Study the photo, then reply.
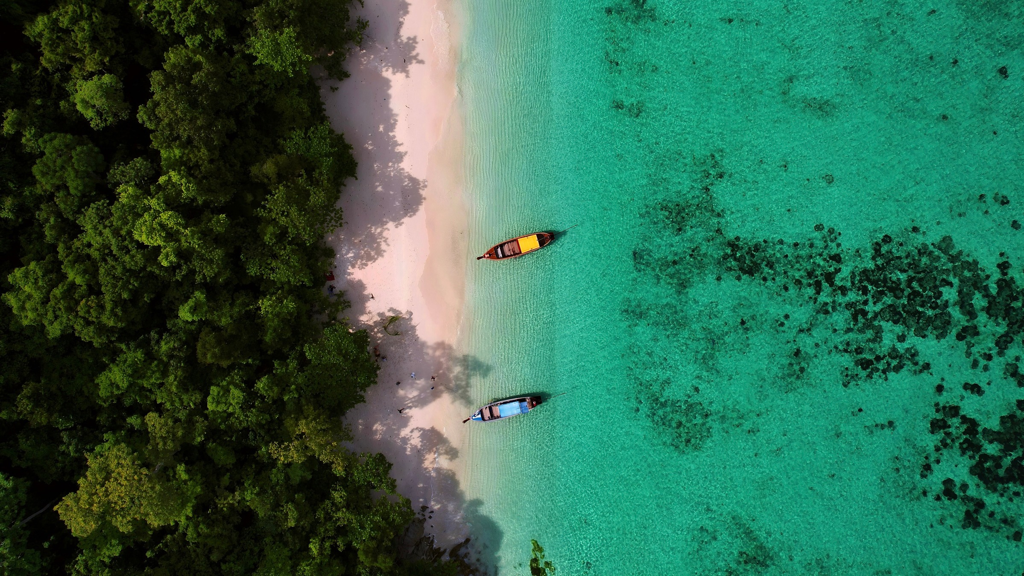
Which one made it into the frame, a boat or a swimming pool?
boat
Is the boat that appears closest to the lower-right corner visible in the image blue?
Yes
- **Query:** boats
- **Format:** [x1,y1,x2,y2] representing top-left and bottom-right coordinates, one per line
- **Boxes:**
[461,391,564,424]
[475,223,576,260]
